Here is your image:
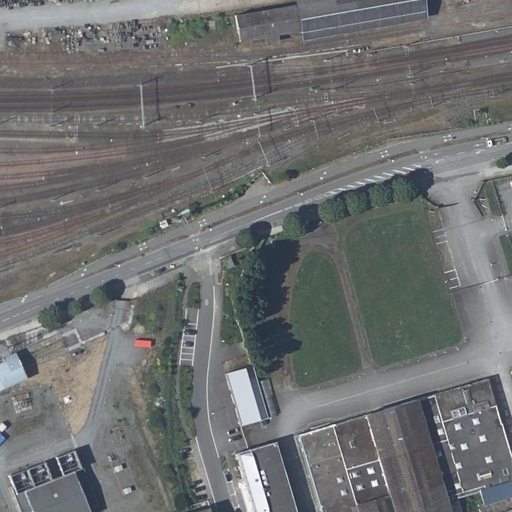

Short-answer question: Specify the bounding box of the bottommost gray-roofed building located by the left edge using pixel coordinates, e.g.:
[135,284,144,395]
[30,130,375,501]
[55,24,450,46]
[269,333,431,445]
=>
[8,450,90,512]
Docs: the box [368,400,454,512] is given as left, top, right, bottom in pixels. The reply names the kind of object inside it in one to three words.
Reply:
building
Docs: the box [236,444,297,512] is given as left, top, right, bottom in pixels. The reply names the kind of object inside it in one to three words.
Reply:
building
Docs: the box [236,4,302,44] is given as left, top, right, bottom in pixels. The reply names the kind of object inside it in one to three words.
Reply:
shed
